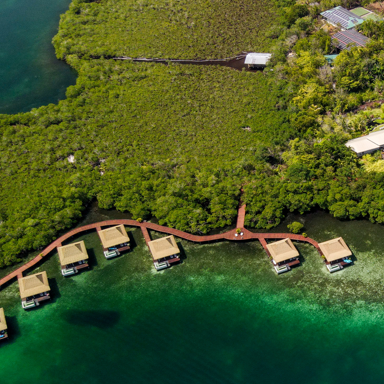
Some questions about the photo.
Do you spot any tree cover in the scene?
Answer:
Yes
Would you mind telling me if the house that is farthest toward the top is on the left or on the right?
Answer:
right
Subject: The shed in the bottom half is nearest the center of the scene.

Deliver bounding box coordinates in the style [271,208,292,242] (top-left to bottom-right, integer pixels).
[148,236,183,267]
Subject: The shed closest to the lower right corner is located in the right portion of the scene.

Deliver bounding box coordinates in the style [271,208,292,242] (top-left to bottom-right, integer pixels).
[318,238,354,270]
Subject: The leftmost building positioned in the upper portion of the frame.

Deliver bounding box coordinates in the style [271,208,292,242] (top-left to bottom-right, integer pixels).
[244,53,272,70]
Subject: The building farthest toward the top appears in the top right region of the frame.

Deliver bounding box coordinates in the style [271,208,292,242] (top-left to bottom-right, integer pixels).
[320,6,364,31]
